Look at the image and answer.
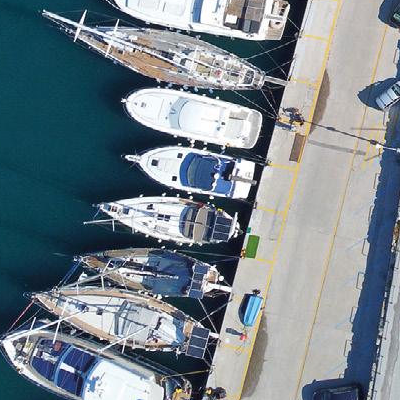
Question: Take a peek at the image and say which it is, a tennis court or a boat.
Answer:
boat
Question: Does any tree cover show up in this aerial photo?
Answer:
No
